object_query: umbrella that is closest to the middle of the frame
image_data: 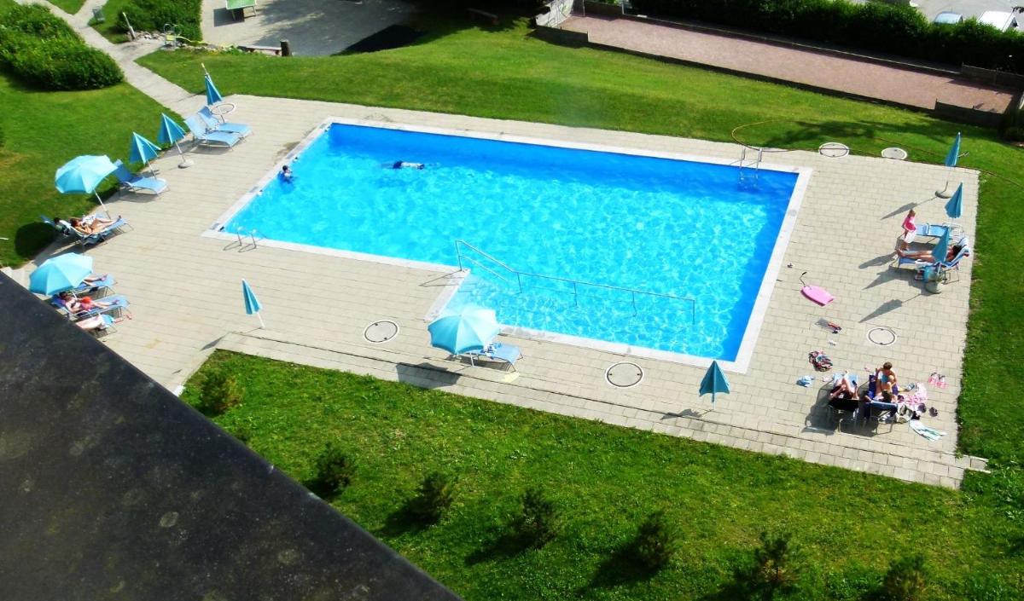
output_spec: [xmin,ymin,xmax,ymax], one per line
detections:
[427,304,505,365]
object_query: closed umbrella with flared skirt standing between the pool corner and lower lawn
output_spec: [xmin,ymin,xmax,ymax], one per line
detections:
[698,360,732,408]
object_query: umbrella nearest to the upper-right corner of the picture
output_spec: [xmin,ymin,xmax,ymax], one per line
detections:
[935,132,959,198]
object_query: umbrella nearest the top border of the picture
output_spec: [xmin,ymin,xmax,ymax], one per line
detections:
[202,64,223,106]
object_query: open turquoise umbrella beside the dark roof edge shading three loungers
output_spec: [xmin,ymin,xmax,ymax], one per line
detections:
[22,250,102,295]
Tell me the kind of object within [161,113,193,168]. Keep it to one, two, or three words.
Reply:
umbrella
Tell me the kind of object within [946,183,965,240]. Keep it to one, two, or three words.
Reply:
umbrella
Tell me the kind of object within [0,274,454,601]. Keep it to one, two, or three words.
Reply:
building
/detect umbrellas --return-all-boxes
[22,250,102,295]
[161,113,193,168]
[202,64,223,106]
[133,132,161,178]
[59,152,123,216]
[427,304,505,365]
[946,183,965,240]
[935,132,959,198]
[243,279,264,327]
[698,360,732,408]
[925,225,950,292]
